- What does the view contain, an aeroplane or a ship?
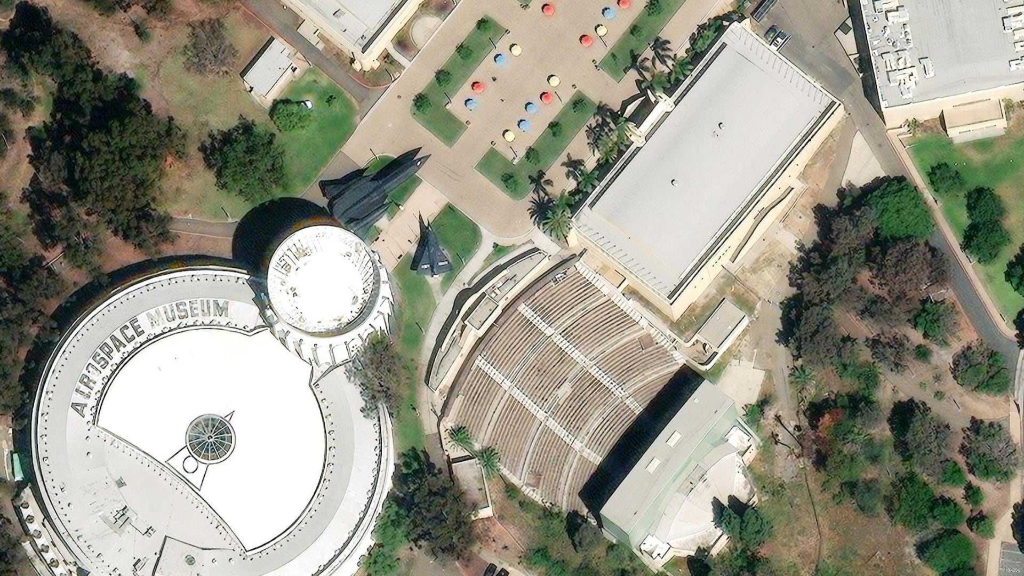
aeroplane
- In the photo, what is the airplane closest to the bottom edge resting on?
grass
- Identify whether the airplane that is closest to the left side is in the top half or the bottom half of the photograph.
top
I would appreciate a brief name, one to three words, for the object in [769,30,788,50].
car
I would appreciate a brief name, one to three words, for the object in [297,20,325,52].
shed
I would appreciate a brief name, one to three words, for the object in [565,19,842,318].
building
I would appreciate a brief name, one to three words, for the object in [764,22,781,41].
car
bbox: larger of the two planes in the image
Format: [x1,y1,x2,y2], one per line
[319,154,430,237]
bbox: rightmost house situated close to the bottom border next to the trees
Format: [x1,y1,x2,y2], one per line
[600,380,763,576]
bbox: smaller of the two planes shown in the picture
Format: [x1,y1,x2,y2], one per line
[418,214,454,277]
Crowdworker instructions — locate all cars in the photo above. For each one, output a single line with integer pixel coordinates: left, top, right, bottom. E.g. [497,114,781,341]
[484,561,497,576]
[764,22,781,41]
[497,565,510,576]
[769,30,788,50]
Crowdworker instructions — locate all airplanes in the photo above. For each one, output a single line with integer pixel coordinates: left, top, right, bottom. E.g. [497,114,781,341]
[418,214,454,277]
[319,154,430,237]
